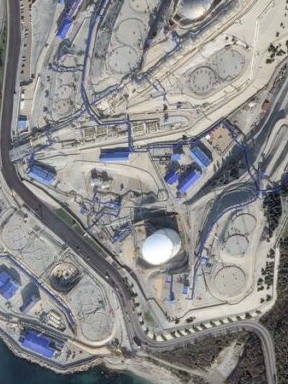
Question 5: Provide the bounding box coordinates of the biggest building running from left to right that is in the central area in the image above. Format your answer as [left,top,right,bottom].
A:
[98,148,131,162]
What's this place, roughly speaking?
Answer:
industrial area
